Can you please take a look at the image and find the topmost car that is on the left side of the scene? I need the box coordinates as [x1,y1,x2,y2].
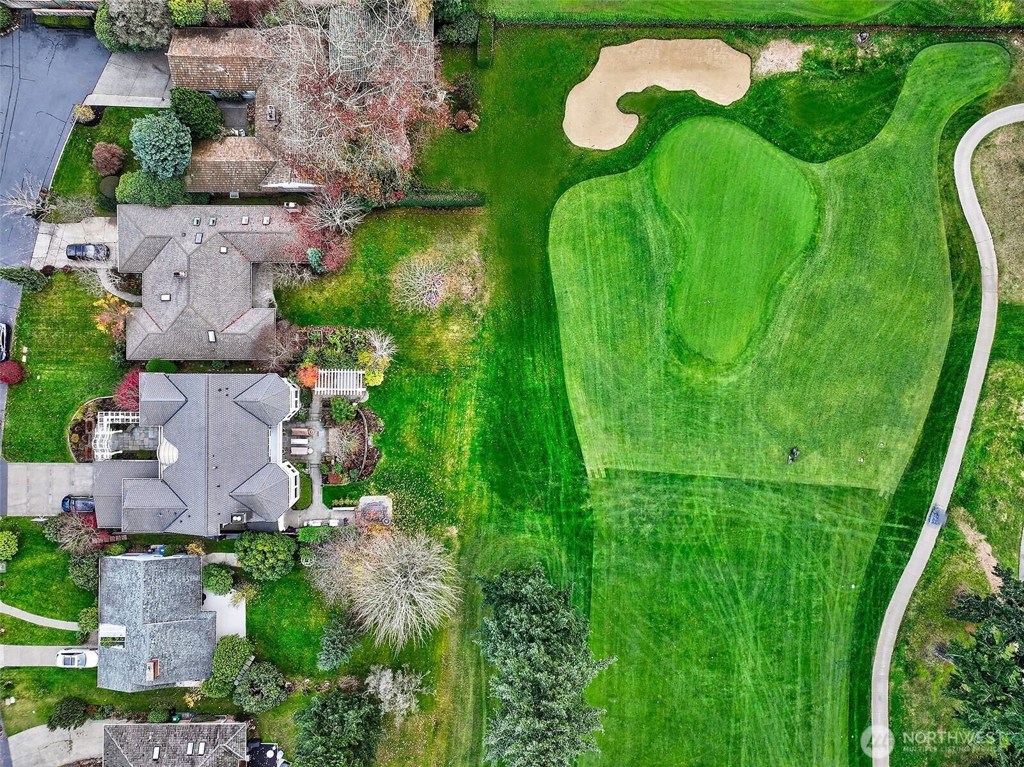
[62,241,109,261]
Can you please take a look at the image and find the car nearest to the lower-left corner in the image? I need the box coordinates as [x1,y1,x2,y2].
[55,647,97,669]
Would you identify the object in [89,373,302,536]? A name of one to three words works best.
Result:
house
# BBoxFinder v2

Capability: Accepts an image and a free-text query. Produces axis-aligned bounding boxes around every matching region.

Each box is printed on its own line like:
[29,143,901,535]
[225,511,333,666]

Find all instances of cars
[0,322,10,364]
[59,496,92,516]
[55,647,97,669]
[62,241,109,261]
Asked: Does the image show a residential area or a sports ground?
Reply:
residential area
